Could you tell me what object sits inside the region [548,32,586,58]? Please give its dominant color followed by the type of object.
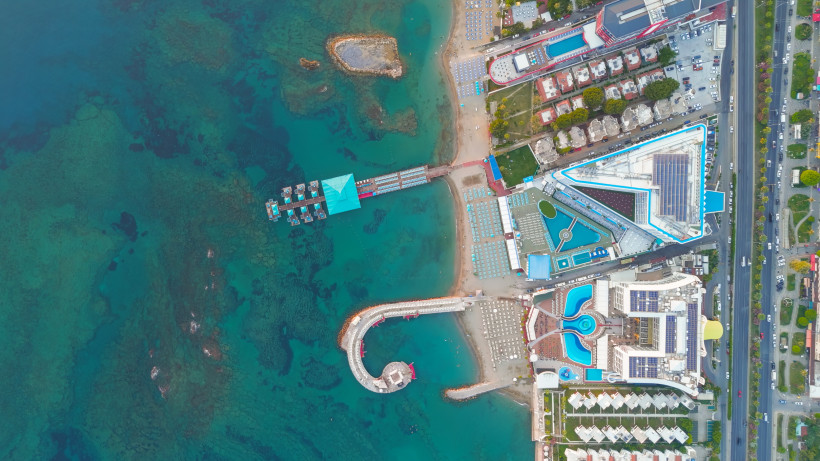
blue swimming pool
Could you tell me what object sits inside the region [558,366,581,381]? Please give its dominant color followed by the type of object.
blue swimming pool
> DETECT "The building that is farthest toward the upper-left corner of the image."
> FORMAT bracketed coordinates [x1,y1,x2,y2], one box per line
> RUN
[322,174,361,215]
